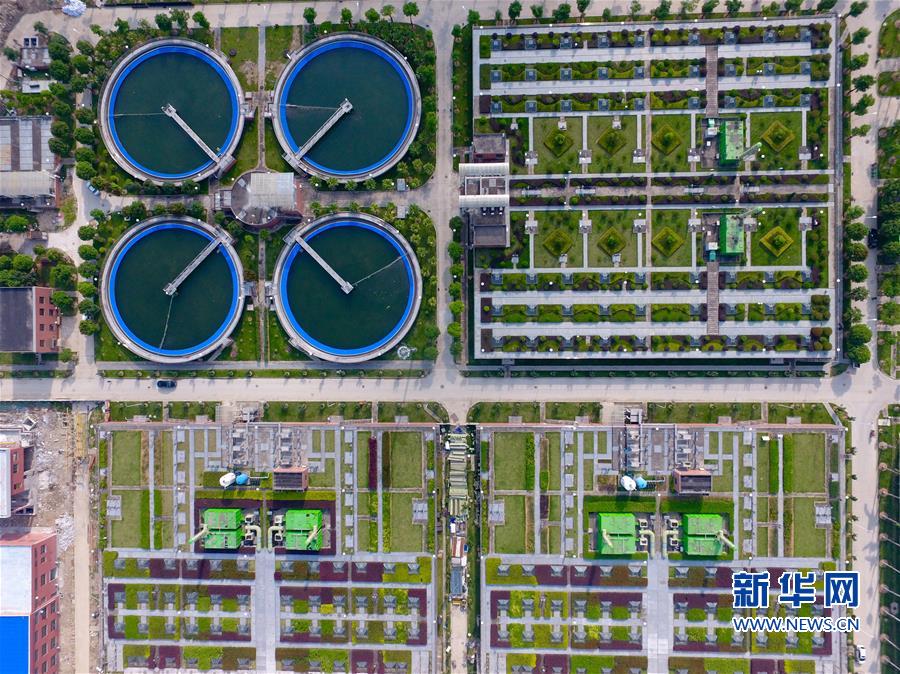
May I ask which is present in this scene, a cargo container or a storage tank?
storage tank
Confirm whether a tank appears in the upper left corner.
Yes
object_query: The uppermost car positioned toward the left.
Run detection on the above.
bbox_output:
[84,180,102,197]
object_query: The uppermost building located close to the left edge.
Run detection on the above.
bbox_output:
[18,38,61,80]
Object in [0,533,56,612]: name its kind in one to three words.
building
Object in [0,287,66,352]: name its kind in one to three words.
building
